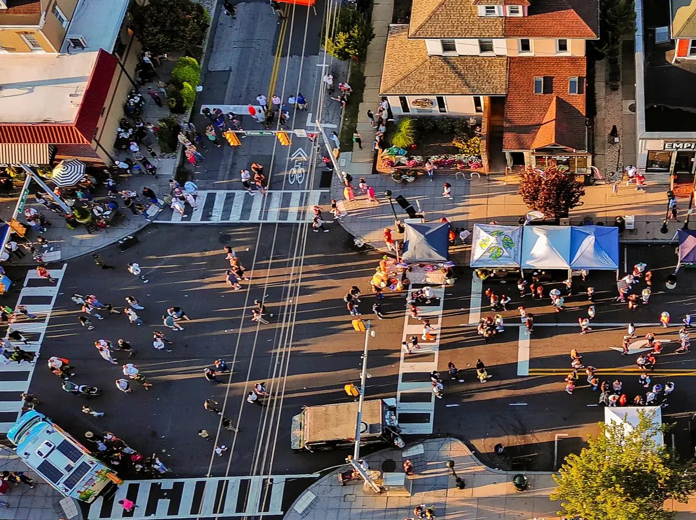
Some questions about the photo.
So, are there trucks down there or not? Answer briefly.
Yes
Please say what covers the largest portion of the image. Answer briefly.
paved ground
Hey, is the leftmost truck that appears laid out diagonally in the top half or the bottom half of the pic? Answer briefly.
bottom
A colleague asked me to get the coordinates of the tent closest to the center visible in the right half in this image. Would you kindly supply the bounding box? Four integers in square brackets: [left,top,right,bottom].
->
[403,227,452,274]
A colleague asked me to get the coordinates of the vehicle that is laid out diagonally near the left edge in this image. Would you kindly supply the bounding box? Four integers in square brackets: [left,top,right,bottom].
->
[6,409,134,512]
